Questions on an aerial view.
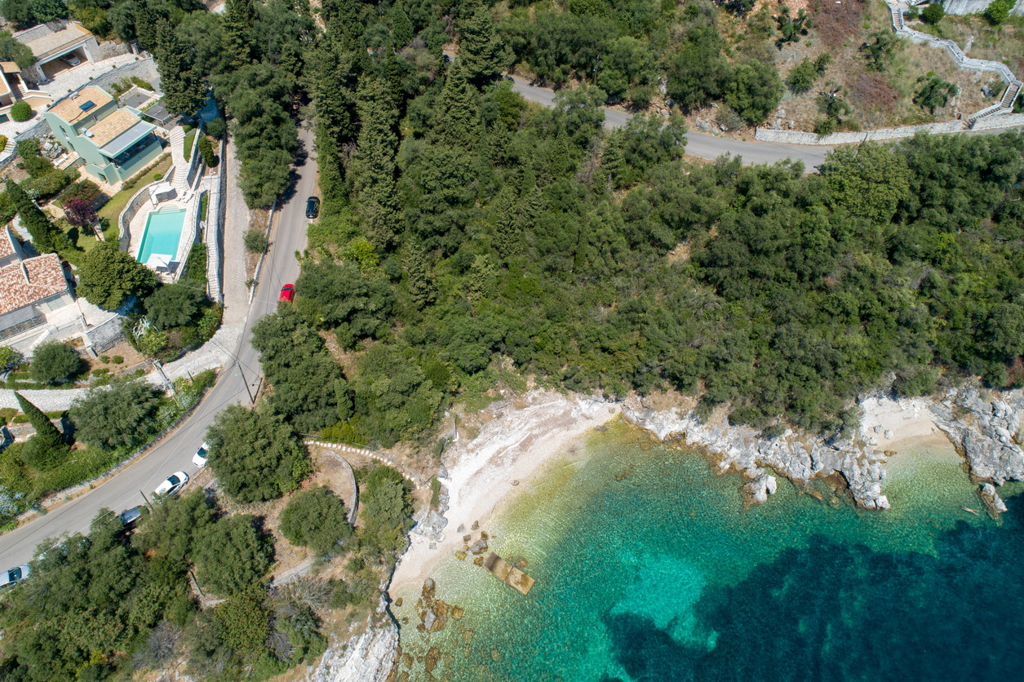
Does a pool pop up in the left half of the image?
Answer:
Yes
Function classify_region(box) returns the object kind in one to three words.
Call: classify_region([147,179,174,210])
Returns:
umbrella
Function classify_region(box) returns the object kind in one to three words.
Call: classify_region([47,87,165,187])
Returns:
building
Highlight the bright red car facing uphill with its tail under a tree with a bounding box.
[277,278,296,301]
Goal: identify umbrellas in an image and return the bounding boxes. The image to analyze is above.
[147,179,174,210]
[143,252,176,275]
